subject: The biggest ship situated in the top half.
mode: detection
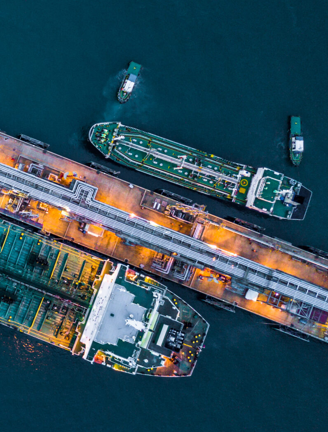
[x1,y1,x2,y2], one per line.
[87,122,313,220]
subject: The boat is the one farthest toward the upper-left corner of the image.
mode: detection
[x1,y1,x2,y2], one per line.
[117,60,142,104]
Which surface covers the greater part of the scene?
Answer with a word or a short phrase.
water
